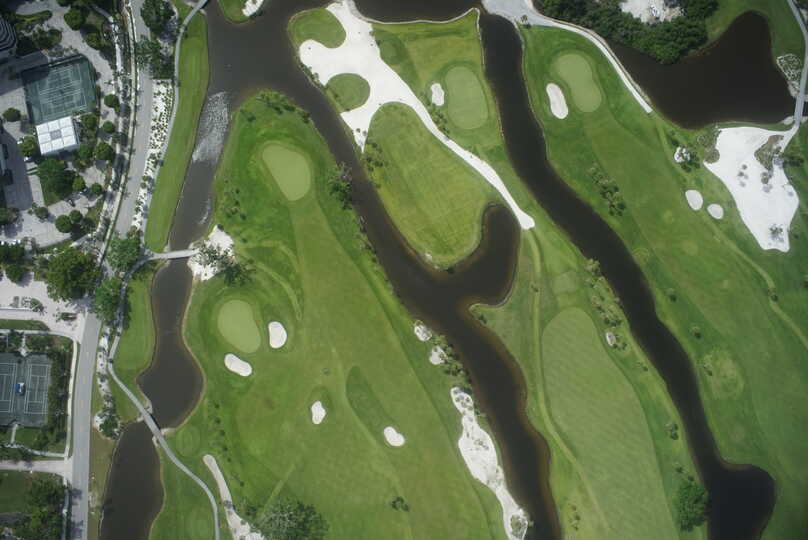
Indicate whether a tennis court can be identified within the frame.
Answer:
Yes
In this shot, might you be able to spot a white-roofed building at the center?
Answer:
No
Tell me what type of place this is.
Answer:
golf course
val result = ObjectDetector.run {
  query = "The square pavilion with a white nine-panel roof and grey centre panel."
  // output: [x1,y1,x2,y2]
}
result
[36,118,82,155]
